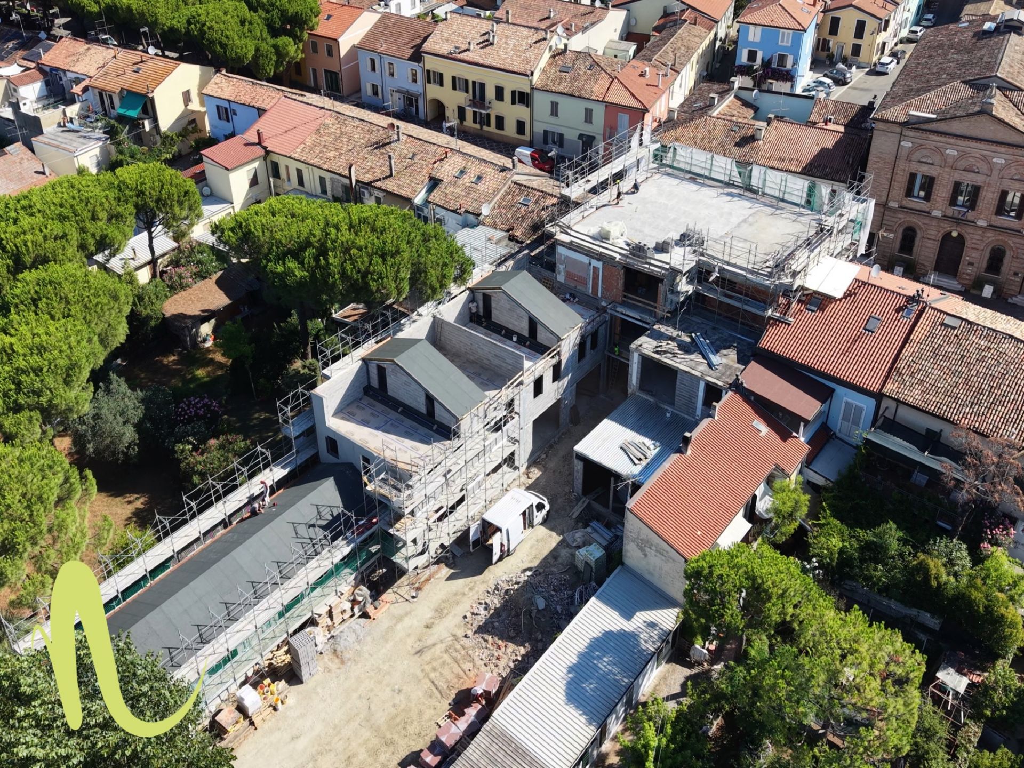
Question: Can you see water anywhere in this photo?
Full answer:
No, the scene doesn't show any water.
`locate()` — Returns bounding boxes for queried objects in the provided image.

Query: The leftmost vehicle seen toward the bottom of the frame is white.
[461,479,549,562]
